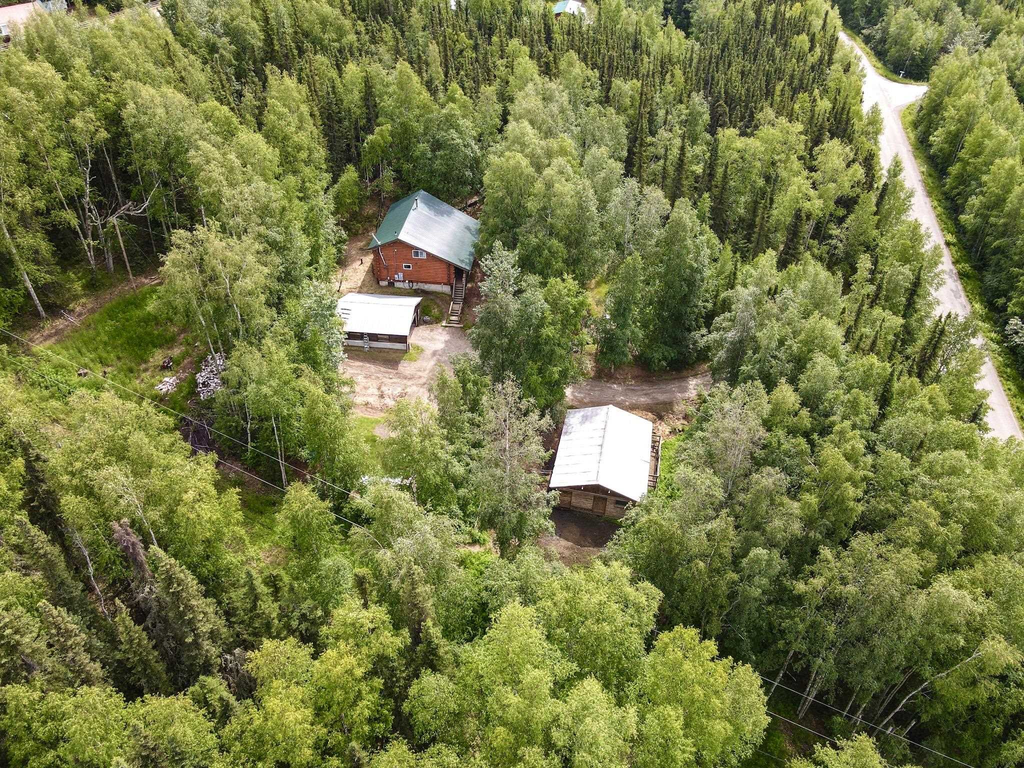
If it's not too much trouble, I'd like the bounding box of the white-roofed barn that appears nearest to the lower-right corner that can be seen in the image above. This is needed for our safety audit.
[549,404,651,518]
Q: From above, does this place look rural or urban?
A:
rural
